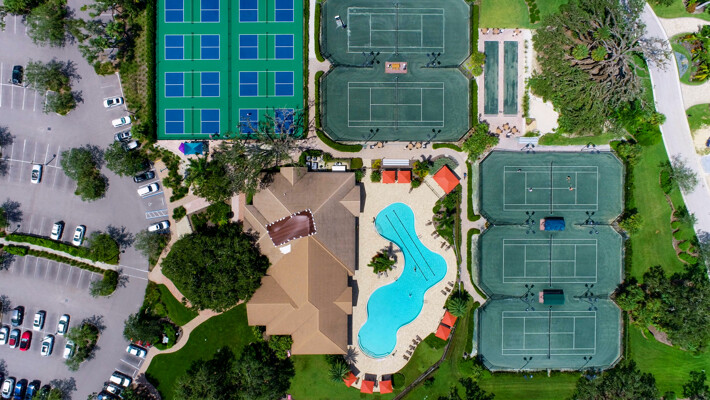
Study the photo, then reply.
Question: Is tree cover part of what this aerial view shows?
Yes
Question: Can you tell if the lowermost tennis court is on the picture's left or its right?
right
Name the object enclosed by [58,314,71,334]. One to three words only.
vehicle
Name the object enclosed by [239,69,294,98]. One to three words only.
sports court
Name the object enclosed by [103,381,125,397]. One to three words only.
vehicle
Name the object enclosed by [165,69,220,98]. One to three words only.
sports court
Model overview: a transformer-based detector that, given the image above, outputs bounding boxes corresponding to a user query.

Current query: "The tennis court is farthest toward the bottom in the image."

[479,297,621,370]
